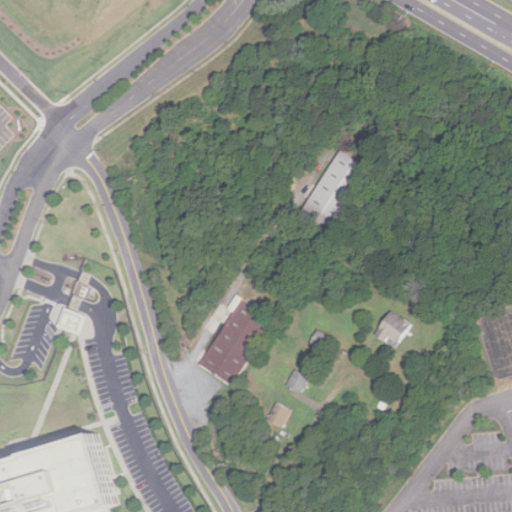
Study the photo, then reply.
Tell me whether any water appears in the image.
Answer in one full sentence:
No, the scene doesn't show any water.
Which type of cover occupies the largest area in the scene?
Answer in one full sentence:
What you mostly see from above here is trees.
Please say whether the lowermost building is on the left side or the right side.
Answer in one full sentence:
The lowermost building is on the left side of the image.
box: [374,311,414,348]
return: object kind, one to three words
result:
house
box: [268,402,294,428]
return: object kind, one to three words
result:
house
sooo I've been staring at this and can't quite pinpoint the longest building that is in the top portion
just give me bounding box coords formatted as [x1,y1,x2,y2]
[304,151,360,223]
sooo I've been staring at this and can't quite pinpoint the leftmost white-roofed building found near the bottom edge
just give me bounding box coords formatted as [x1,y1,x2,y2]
[0,431,120,512]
